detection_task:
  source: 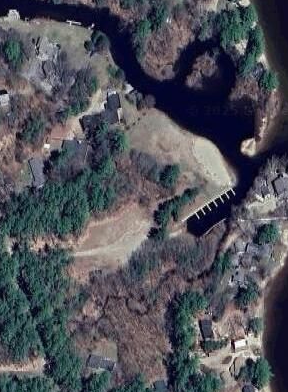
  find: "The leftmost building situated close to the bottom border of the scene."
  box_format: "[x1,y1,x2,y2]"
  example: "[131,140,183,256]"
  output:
[86,355,115,373]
